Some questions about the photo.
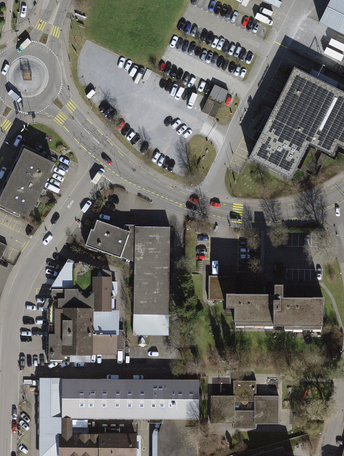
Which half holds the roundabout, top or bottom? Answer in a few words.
top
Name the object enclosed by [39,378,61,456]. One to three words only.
building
